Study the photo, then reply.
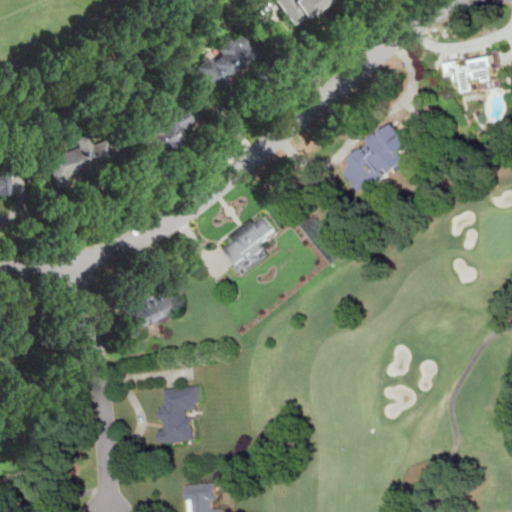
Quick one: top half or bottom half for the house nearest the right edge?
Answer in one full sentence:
The house nearest the right edge sits in the top half of the picture.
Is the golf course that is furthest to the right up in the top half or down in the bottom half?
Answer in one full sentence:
It is in the bottom half that the golf course that is furthest to the right appears.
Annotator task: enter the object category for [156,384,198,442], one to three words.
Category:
house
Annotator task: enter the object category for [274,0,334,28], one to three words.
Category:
house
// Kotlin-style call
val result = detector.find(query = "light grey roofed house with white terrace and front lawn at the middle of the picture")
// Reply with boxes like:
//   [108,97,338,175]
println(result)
[218,214,277,265]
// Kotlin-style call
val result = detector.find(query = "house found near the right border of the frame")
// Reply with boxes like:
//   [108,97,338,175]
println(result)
[441,57,492,95]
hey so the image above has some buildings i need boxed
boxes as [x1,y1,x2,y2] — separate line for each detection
[0,176,12,196]
[164,112,197,148]
[184,486,222,512]
[138,294,180,332]
[50,140,112,183]
[441,57,492,95]
[340,129,402,187]
[218,214,277,265]
[200,35,256,82]
[156,384,198,442]
[274,0,334,28]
